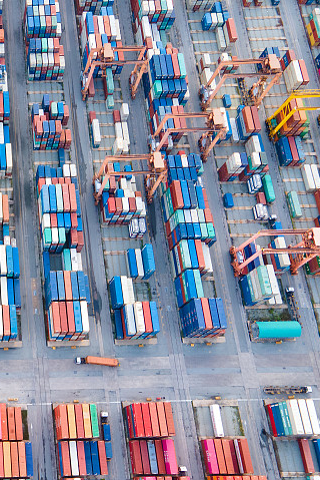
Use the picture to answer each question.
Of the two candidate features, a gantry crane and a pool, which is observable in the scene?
gantry crane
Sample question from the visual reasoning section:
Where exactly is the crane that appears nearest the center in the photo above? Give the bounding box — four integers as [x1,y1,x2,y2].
[93,153,170,205]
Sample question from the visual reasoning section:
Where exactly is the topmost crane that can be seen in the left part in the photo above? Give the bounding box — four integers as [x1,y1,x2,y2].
[81,45,148,102]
